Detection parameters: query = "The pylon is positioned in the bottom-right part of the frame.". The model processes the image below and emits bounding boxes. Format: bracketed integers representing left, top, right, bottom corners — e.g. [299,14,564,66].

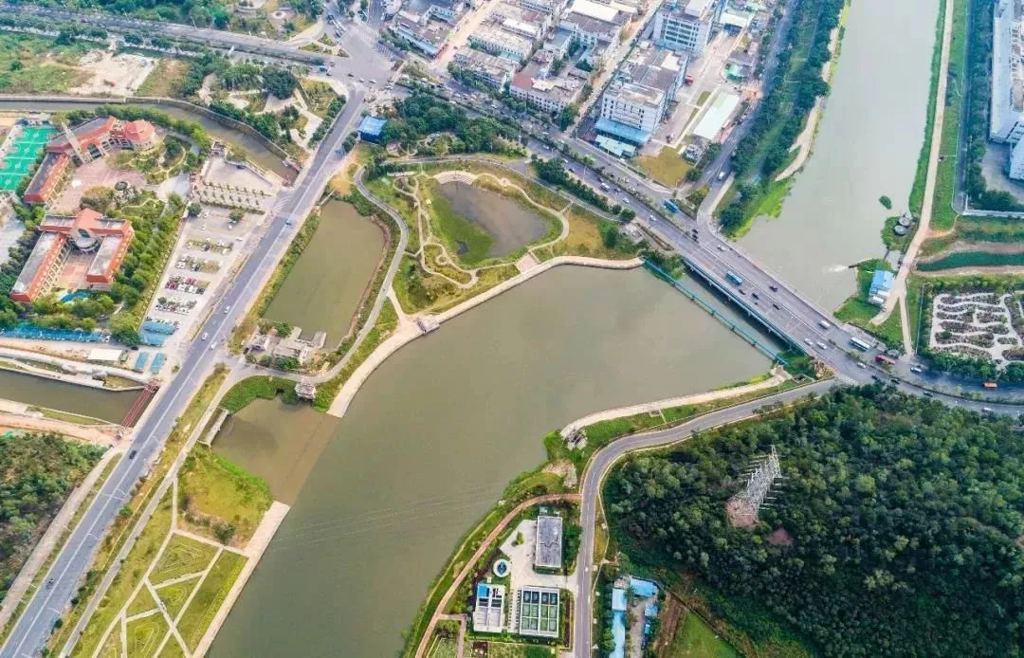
[724,455,792,529]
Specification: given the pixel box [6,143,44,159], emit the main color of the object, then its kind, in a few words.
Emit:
green basketball court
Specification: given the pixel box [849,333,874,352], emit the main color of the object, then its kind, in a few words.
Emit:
white vehicle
